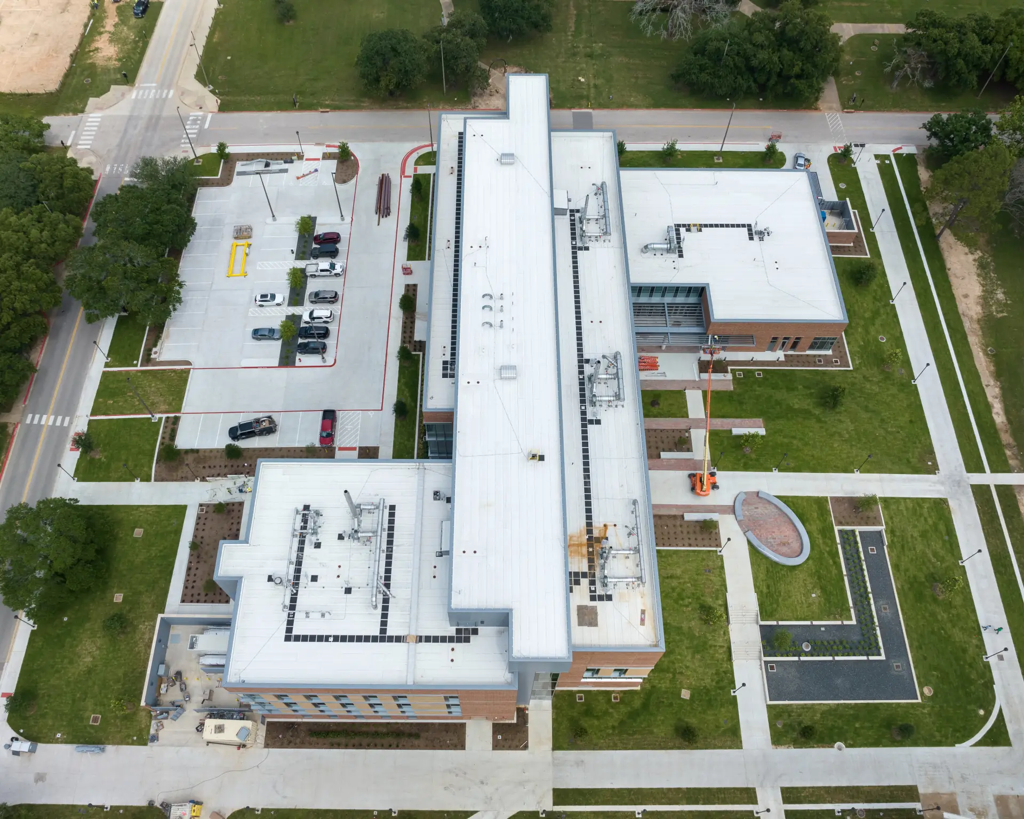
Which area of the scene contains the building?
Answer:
center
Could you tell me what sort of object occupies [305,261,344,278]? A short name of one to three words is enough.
vehicle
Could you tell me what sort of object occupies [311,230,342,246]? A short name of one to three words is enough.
car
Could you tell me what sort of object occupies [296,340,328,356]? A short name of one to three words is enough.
car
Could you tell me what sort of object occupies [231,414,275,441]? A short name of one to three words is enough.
truck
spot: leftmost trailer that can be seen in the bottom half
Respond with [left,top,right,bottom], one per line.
[0,735,40,758]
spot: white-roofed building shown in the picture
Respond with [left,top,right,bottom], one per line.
[214,74,849,719]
